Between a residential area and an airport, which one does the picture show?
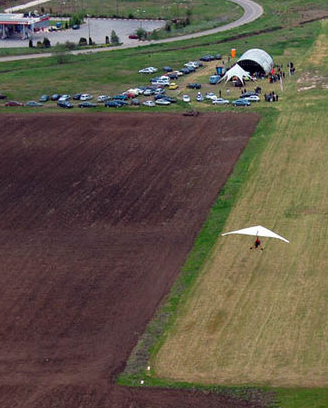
airport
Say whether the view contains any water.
No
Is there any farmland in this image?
Yes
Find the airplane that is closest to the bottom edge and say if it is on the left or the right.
right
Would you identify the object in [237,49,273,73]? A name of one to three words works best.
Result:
hangar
